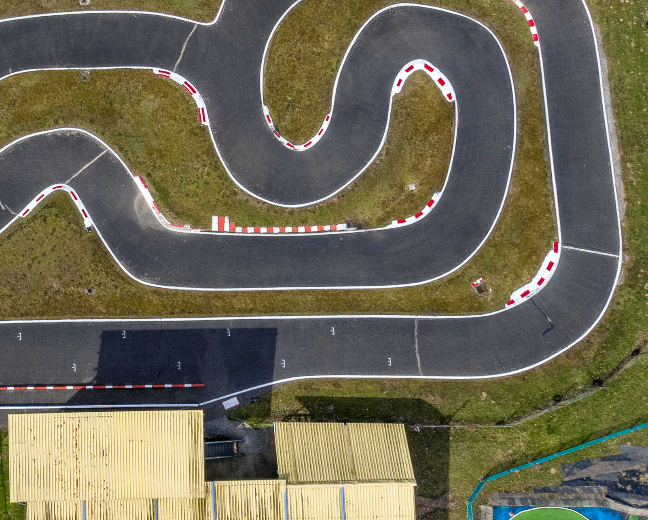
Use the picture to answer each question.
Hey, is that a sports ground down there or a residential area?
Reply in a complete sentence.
The area seen from above is a sports ground.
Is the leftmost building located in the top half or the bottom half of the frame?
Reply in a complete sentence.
The leftmost building is in the bottom half of the image.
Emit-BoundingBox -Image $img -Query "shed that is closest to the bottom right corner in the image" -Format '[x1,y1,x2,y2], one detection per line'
[274,422,417,486]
